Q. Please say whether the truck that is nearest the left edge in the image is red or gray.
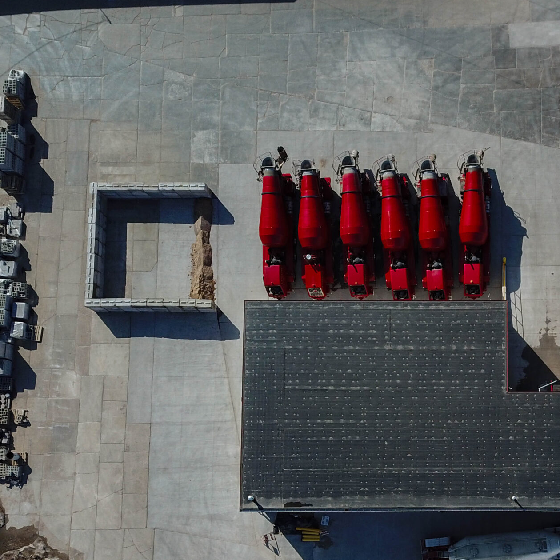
red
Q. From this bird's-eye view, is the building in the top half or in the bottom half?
bottom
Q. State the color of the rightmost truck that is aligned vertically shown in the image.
red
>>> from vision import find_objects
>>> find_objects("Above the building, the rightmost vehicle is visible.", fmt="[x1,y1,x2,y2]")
[457,150,493,300]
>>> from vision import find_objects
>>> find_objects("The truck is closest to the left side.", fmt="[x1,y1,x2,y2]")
[257,147,293,300]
